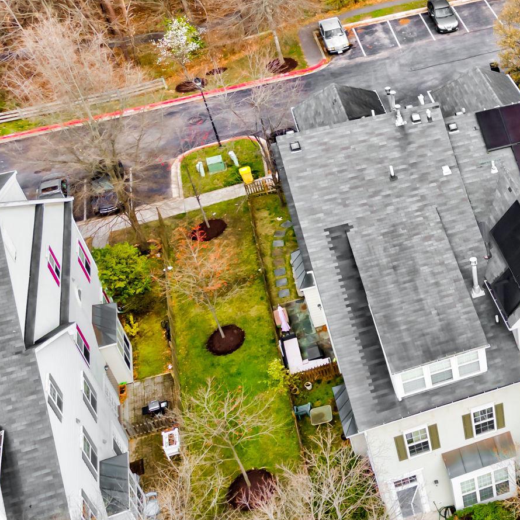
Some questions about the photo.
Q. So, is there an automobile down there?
Yes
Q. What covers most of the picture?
buildings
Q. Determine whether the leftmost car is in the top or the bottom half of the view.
top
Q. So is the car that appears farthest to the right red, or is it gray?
gray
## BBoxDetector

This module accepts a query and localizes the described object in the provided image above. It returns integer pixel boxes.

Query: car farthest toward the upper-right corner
[424,0,460,33]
